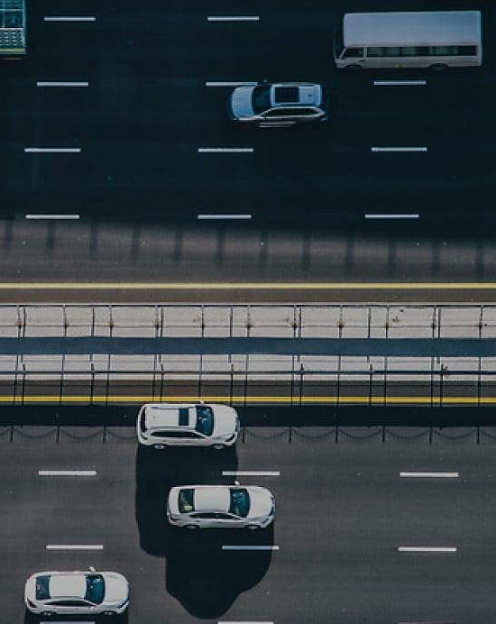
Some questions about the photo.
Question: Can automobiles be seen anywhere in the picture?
Yes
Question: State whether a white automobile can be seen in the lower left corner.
Yes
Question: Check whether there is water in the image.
No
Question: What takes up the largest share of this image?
paved ground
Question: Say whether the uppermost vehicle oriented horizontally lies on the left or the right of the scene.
right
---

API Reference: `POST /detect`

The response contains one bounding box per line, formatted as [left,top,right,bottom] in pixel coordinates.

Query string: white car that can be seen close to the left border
[24,566,131,618]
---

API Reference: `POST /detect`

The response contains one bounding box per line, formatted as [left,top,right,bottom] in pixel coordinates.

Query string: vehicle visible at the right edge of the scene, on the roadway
[335,11,484,73]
